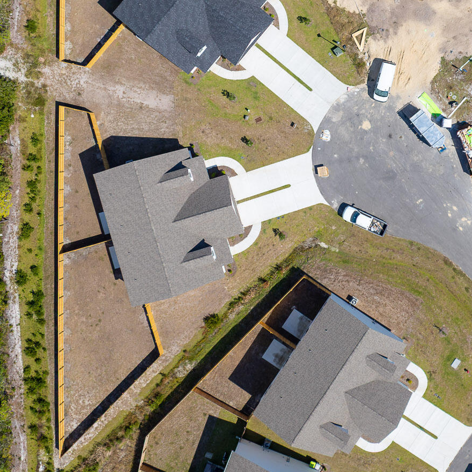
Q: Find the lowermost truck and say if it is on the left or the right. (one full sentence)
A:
The lowermost truck is on the right side of the image.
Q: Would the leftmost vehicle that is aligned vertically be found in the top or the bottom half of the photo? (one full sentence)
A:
Seen from above, the leftmost vehicle that is aligned vertically lies in the top half of the view.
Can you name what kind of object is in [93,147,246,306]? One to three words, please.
house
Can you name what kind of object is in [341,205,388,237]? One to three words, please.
truck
